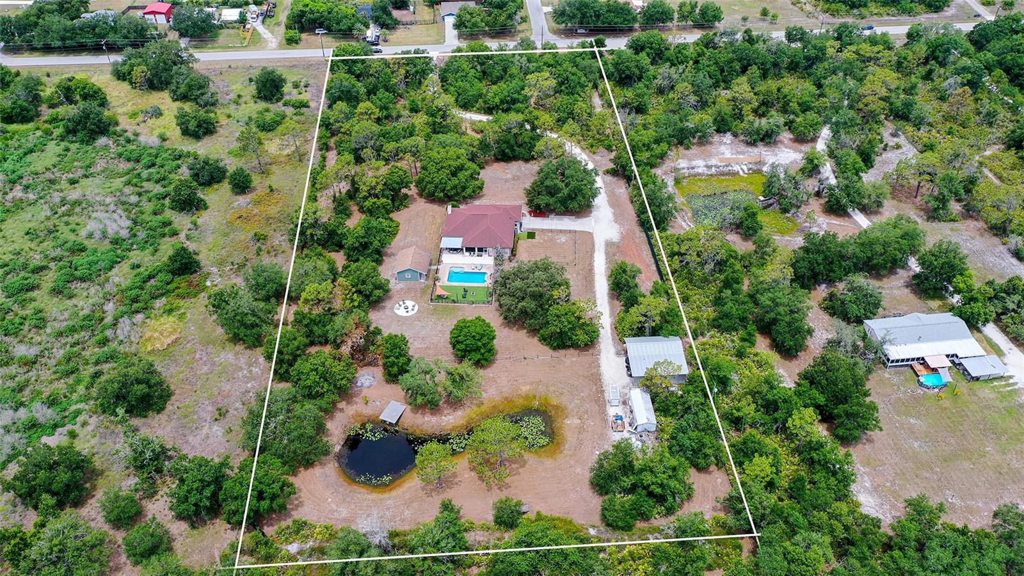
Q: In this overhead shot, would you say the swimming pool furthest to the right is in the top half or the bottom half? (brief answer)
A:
bottom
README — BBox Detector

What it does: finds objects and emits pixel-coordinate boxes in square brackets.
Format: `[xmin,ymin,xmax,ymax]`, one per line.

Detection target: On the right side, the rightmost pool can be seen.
[918,371,948,395]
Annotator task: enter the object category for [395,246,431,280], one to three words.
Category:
shed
